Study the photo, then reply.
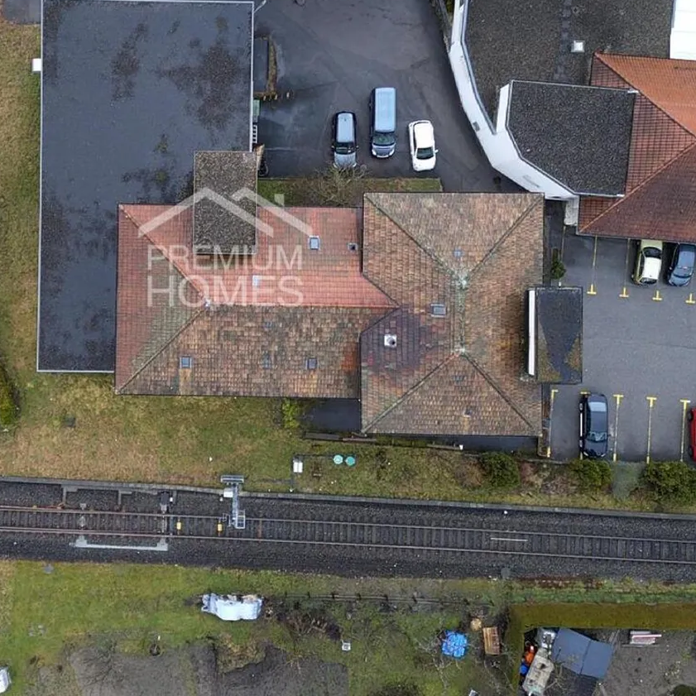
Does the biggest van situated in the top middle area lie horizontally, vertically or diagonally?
vertically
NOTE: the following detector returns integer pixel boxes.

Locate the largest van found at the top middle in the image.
[367,86,399,158]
